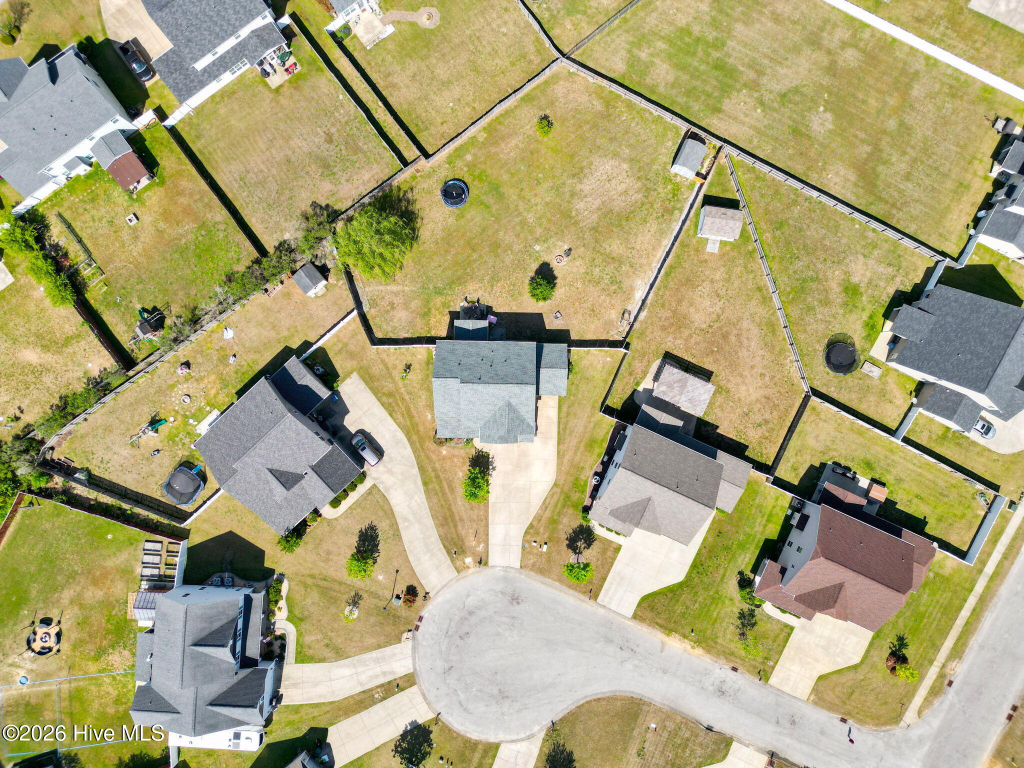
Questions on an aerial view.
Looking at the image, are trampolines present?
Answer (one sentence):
Yes, there's a trampoline here.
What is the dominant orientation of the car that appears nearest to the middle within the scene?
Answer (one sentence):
The car that appears nearest to the middle runs on a diagonal in the image.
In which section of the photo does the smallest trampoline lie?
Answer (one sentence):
You can find the smallest trampoline in the top area of the picture.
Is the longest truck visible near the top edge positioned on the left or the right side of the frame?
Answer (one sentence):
You can find the longest truck visible near the top edge on the left side of the picture.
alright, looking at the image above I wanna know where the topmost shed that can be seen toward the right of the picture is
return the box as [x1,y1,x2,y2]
[673,139,707,178]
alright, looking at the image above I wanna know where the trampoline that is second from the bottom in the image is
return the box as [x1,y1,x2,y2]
[824,337,866,371]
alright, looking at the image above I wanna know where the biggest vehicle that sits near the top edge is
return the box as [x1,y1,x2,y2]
[116,37,152,81]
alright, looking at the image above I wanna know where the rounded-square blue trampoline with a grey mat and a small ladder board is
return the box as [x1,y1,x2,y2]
[159,463,204,503]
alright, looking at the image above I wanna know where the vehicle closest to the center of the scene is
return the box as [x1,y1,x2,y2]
[352,431,382,468]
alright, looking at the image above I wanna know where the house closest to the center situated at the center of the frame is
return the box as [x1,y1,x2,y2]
[433,315,568,444]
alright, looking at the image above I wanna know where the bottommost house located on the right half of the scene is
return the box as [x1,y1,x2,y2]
[749,477,935,633]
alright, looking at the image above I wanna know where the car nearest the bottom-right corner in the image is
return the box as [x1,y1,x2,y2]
[973,414,1002,442]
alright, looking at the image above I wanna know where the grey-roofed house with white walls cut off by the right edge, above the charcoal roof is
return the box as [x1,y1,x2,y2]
[964,140,1024,268]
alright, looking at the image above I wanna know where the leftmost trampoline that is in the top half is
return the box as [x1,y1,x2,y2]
[441,175,469,206]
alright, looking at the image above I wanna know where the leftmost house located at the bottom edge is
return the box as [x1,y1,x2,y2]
[128,587,277,740]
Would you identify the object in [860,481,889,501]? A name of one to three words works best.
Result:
gazebo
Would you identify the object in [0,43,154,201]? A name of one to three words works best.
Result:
house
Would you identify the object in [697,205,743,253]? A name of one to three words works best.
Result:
shed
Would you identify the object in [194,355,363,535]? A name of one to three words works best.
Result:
house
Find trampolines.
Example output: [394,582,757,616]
[159,463,204,503]
[441,175,469,206]
[824,337,866,371]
